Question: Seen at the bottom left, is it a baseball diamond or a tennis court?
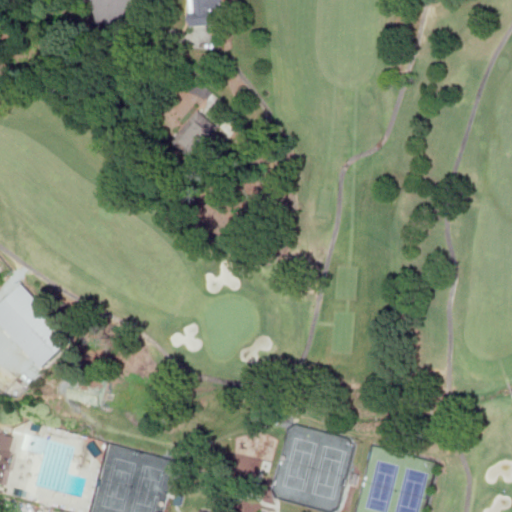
tennis court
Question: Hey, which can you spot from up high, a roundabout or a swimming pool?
swimming pool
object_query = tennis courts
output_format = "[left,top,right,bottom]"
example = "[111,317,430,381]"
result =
[306,432,353,510]
[272,426,324,506]
[392,454,435,512]
[357,446,406,512]
[91,444,142,512]
[126,452,172,512]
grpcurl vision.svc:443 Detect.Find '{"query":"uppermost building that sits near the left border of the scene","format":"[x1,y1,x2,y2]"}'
[0,280,58,385]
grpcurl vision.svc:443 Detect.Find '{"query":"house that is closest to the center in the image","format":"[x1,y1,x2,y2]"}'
[174,110,214,154]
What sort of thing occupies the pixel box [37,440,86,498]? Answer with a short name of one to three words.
swimming pool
